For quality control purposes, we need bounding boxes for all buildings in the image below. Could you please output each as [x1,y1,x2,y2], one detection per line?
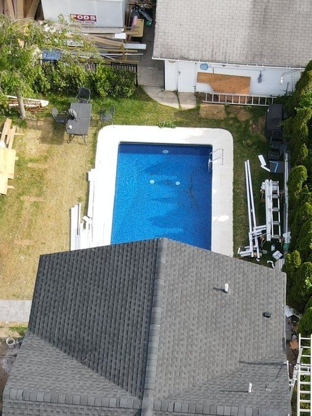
[152,0,311,97]
[1,237,293,416]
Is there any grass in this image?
Yes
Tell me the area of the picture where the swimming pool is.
center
